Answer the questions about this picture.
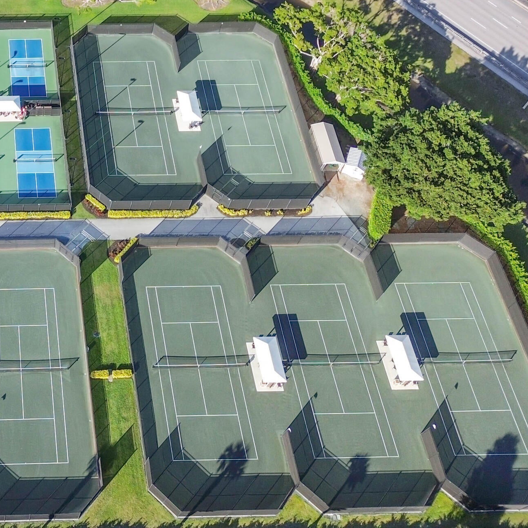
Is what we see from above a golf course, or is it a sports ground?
sports ground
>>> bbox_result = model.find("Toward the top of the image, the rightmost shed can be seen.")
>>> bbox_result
[343,148,364,177]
